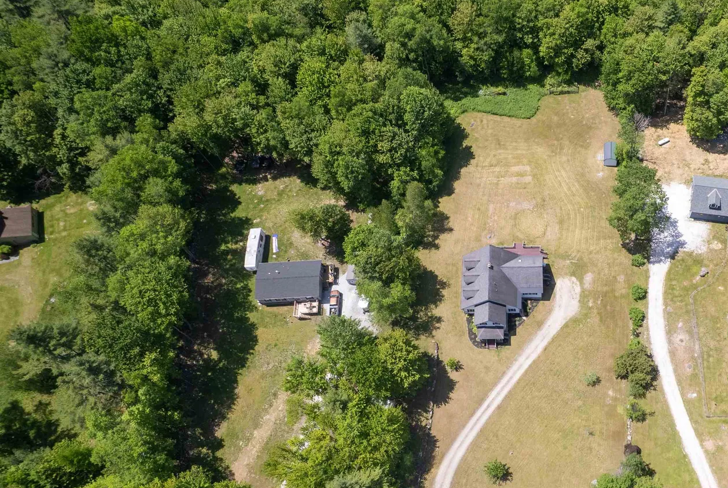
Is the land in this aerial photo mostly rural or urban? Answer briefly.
rural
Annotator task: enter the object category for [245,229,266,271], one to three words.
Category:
trailer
